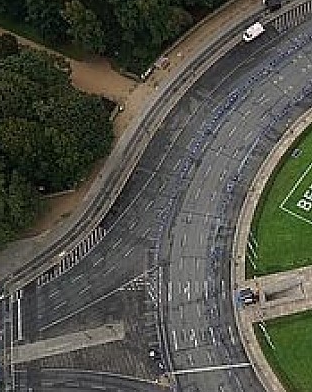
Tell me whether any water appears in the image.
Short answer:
No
